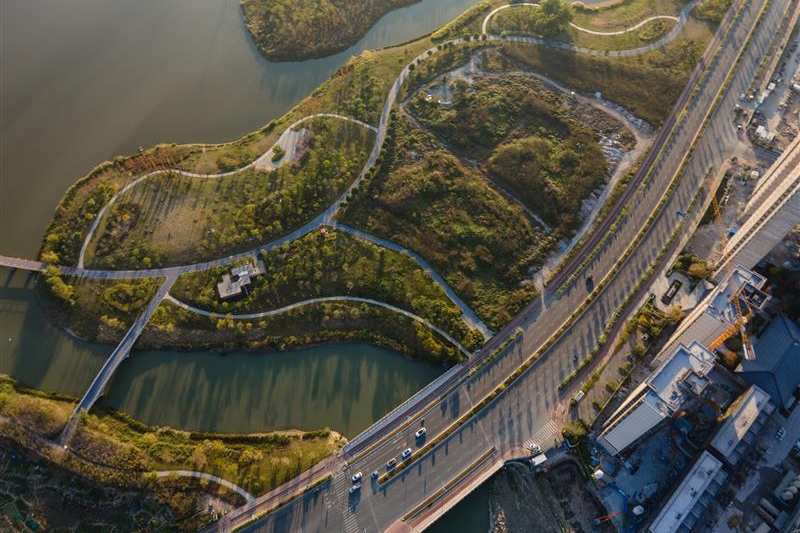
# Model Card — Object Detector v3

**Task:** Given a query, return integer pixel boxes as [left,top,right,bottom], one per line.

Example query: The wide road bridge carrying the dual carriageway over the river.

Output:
[339,365,504,533]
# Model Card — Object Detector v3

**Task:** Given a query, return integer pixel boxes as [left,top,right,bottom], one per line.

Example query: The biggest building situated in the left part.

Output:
[217,261,268,301]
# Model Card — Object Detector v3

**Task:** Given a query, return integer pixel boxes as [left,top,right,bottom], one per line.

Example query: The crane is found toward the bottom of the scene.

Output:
[709,284,759,363]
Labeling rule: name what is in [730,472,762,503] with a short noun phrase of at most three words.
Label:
shed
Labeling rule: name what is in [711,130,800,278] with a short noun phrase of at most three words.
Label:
building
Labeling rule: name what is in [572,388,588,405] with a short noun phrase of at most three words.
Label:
vehicle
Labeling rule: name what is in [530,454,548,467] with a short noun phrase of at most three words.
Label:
vehicle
